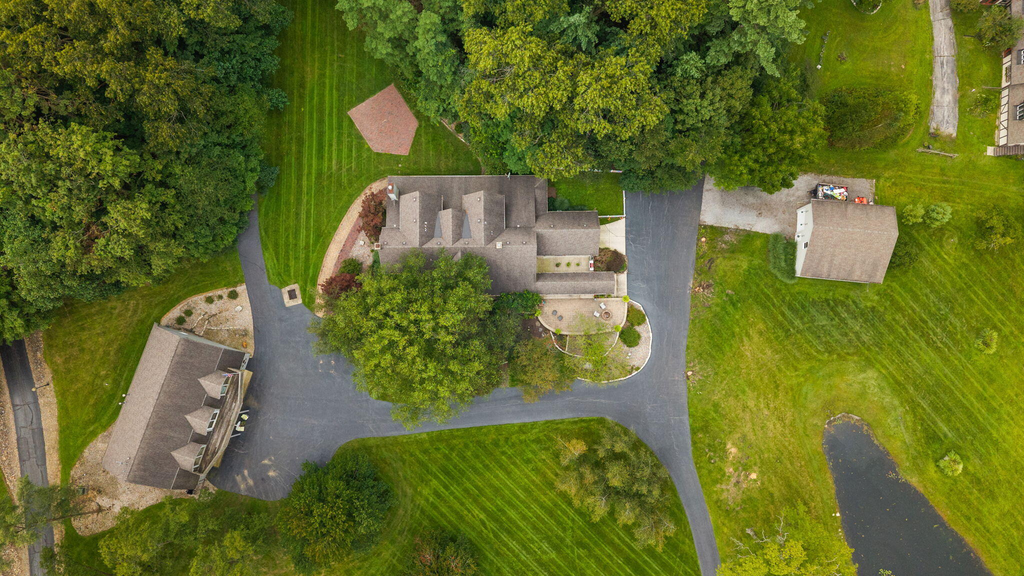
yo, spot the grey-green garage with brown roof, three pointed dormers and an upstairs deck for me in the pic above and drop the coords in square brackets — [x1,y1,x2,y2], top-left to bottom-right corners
[104,323,254,489]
